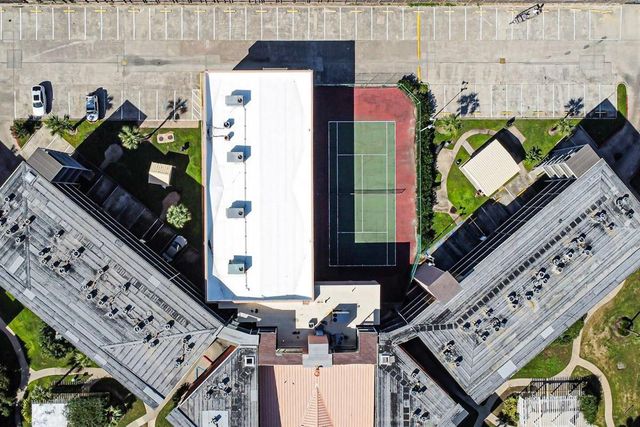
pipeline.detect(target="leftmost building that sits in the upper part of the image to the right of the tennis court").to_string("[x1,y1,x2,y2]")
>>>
[458,139,521,198]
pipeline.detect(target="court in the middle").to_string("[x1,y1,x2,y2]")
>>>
[314,86,417,287]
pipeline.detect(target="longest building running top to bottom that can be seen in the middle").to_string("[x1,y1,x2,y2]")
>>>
[203,68,314,303]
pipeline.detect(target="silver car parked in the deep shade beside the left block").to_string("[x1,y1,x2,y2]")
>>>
[164,233,188,262]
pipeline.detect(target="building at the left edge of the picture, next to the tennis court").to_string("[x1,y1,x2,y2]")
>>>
[0,163,235,409]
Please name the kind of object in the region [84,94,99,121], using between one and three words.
car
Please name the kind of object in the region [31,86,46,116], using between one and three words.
car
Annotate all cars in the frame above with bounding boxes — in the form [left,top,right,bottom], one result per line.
[164,233,188,262]
[84,94,99,121]
[31,86,46,116]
